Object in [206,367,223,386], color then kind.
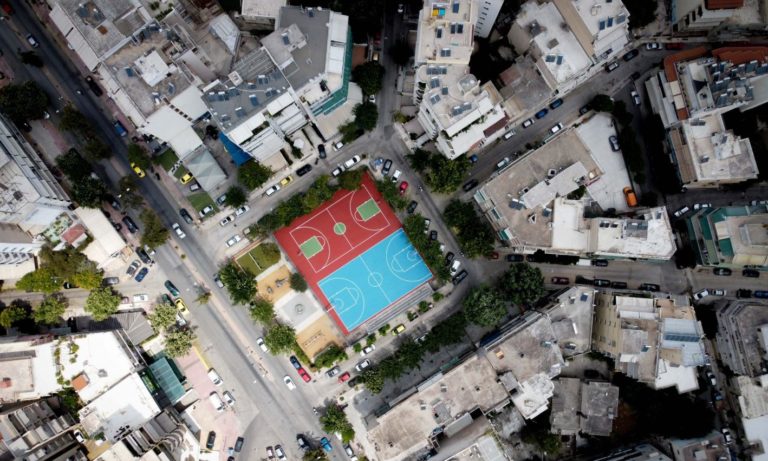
white vehicle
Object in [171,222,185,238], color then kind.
white car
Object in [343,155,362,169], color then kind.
white vehicle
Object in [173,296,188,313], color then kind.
yellow car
